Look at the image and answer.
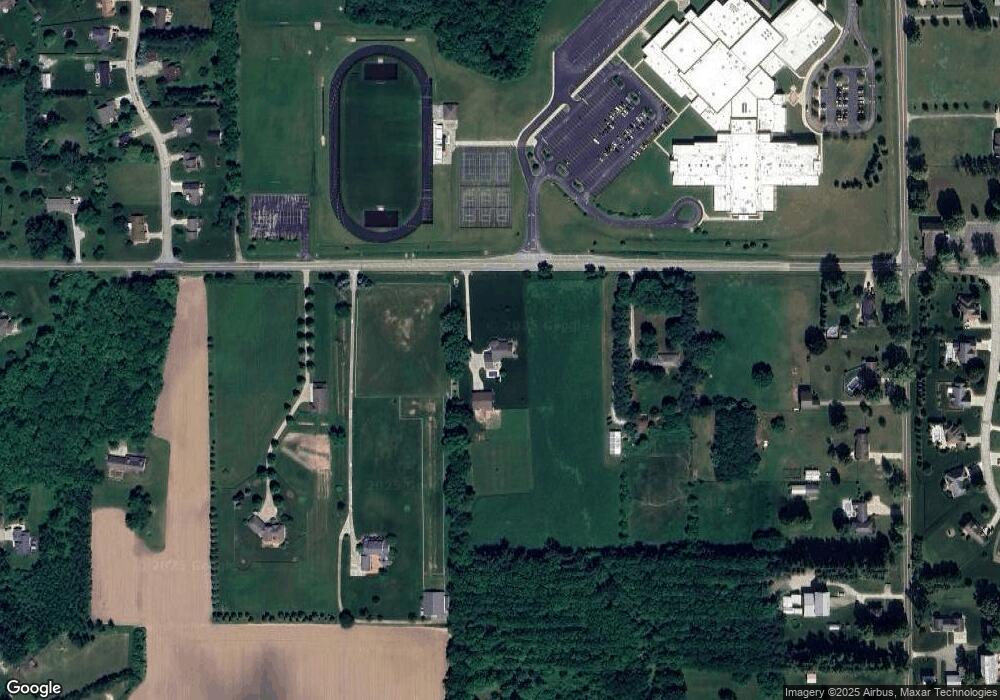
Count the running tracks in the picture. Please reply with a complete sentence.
Altogether the scene contains 1 running track.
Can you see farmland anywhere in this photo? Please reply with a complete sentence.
Yes, the picture does contain farmland.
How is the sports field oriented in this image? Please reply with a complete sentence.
I'd say the sports field is aligned from top to bottom in the picture.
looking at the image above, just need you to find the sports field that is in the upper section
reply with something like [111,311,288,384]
[341,57,420,229]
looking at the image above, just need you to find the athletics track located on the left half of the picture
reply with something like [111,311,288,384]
[329,45,433,242]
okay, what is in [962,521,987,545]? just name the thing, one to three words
house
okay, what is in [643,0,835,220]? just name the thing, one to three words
building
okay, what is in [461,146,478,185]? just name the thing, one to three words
tennis court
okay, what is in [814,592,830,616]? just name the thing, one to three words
barn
